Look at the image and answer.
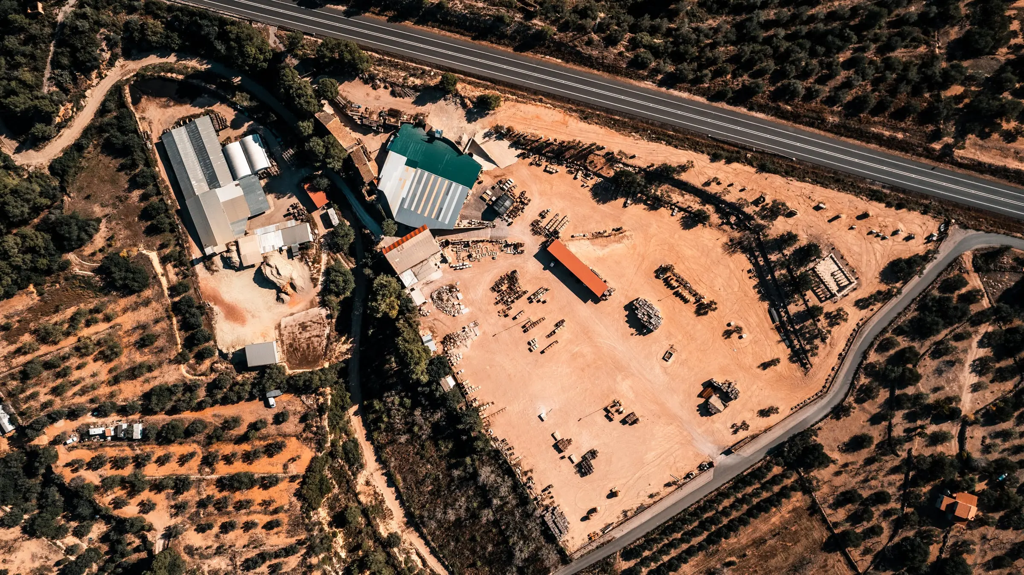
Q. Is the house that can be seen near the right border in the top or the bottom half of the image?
bottom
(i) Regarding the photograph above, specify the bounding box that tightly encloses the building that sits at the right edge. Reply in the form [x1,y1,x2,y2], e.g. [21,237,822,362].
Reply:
[935,490,978,526]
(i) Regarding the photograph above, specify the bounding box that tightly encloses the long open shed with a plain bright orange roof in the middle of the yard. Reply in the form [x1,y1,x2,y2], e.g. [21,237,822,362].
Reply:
[547,240,608,297]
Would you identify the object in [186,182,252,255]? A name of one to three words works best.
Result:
shed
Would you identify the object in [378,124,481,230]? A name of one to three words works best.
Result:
building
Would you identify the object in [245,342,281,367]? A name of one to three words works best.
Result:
barn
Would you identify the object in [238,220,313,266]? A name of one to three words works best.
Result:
shed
